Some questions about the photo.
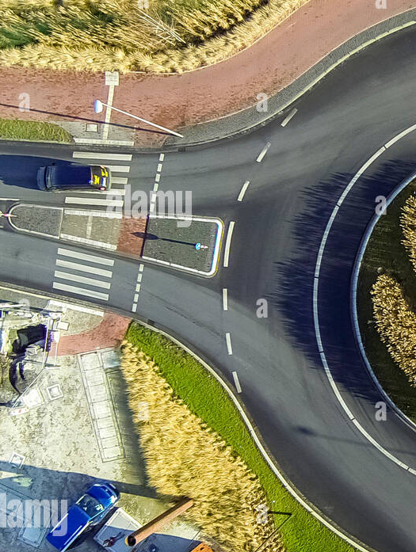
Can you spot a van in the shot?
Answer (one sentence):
Yes, I can see a van in this picture.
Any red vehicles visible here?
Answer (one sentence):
No, the picture doesn't show any red vehicle.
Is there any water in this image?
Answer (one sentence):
No, water can't be seen anywhere here.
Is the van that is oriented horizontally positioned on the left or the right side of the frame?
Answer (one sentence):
It is on the left.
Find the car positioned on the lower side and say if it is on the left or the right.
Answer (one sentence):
You can find the car positioned on the lower side on the left side of the picture.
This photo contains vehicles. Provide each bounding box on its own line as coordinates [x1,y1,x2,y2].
[39,160,113,194]
[49,481,124,549]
